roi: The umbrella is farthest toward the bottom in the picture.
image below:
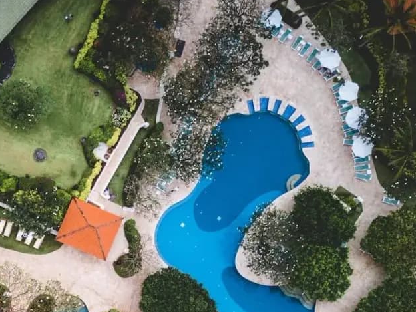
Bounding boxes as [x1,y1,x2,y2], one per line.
[352,136,372,156]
